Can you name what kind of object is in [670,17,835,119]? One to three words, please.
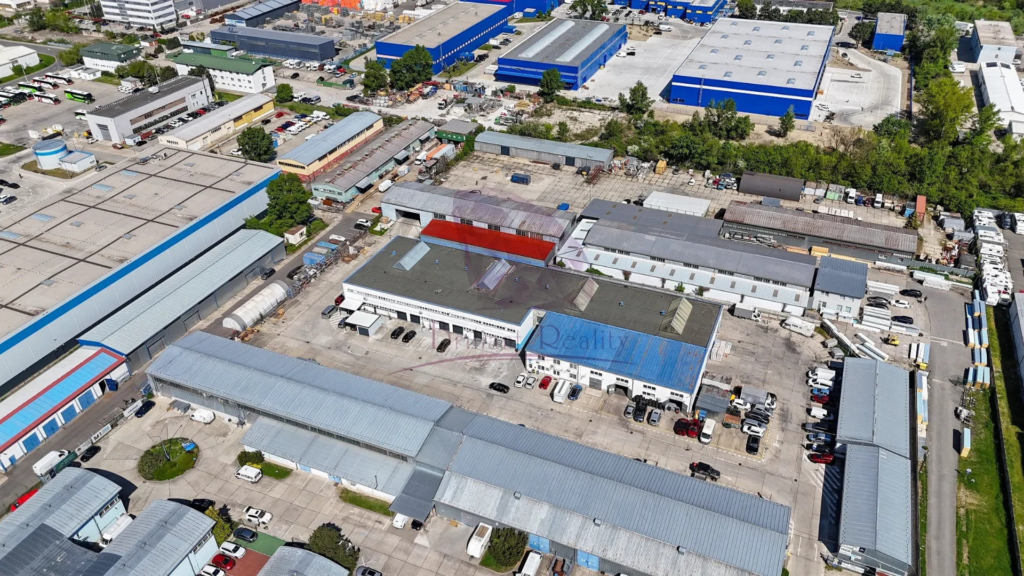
building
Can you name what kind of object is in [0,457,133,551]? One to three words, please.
building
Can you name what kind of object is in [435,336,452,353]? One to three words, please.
car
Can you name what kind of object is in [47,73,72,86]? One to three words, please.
vehicle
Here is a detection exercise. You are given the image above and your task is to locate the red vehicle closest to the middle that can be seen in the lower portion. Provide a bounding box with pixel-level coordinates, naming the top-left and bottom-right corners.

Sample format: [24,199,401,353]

[536,374,552,391]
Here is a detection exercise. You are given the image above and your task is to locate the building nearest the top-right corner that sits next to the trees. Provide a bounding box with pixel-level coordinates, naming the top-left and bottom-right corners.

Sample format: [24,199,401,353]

[971,19,1019,64]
